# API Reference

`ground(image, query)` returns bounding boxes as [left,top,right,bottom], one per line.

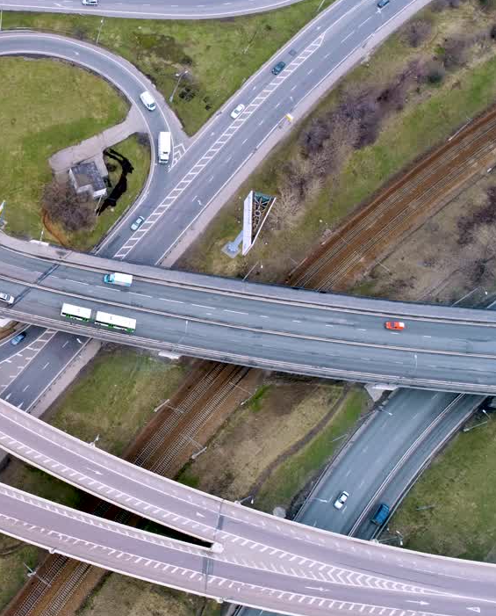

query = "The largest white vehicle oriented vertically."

[157,132,170,163]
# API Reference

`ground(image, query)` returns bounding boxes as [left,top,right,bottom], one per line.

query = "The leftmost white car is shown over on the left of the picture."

[0,292,15,304]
